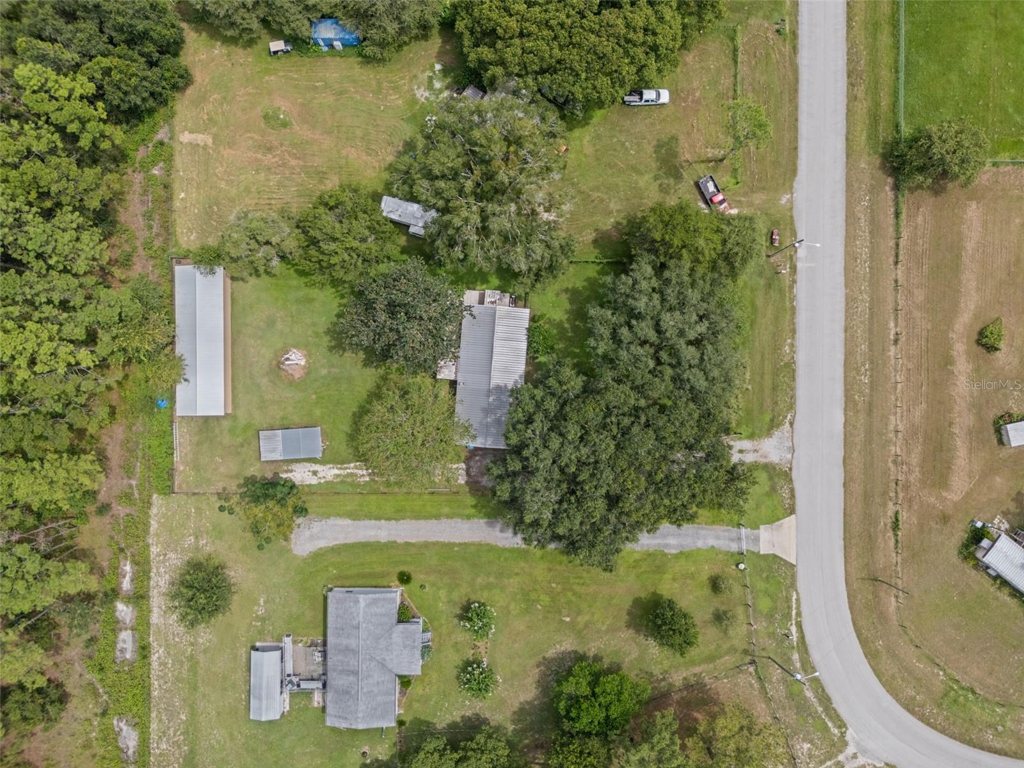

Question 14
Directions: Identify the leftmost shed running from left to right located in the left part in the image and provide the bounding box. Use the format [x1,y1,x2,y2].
[259,427,323,460]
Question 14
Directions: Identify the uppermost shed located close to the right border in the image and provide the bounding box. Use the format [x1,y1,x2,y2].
[988,417,1024,447]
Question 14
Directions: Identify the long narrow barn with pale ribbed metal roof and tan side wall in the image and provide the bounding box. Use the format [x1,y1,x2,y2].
[175,265,231,416]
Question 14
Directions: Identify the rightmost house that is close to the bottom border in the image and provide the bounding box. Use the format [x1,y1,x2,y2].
[326,585,422,731]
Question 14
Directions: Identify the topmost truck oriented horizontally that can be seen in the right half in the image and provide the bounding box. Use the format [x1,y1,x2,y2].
[622,87,669,108]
